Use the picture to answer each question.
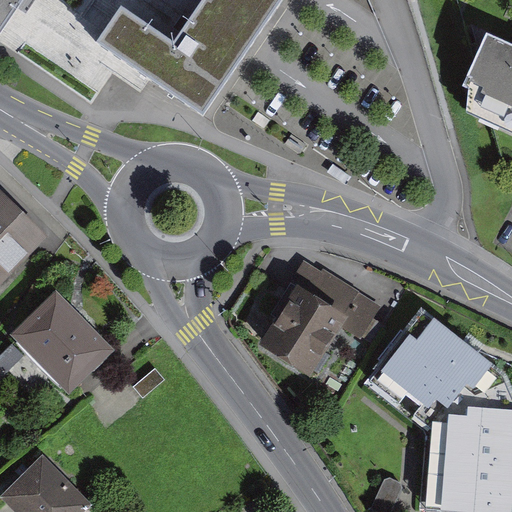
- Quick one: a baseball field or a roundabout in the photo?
roundabout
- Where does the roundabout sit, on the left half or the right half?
left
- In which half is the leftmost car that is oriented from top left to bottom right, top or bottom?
bottom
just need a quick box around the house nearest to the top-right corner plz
[463,33,512,132]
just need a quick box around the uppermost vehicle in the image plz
[300,43,319,64]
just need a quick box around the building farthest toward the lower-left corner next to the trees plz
[1,455,90,512]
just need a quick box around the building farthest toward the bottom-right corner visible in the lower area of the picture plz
[424,406,512,512]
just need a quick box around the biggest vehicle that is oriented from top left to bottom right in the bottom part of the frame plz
[254,427,275,451]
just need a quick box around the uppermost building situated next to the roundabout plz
[96,0,284,114]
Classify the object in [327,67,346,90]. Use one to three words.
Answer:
car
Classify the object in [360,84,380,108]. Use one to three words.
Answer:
car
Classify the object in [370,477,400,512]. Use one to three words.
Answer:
building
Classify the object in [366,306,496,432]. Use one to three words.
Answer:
house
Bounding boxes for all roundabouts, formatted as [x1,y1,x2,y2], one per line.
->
[104,142,244,282]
